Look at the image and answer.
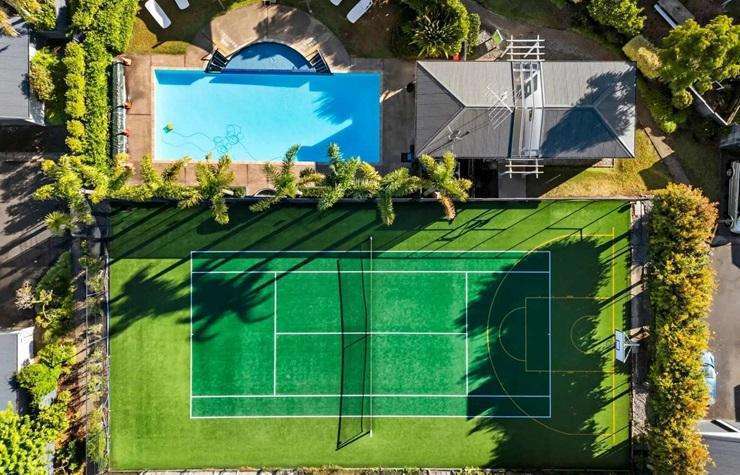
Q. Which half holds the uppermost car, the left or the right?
right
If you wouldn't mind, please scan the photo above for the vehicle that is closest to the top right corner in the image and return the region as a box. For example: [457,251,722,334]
[716,124,740,153]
